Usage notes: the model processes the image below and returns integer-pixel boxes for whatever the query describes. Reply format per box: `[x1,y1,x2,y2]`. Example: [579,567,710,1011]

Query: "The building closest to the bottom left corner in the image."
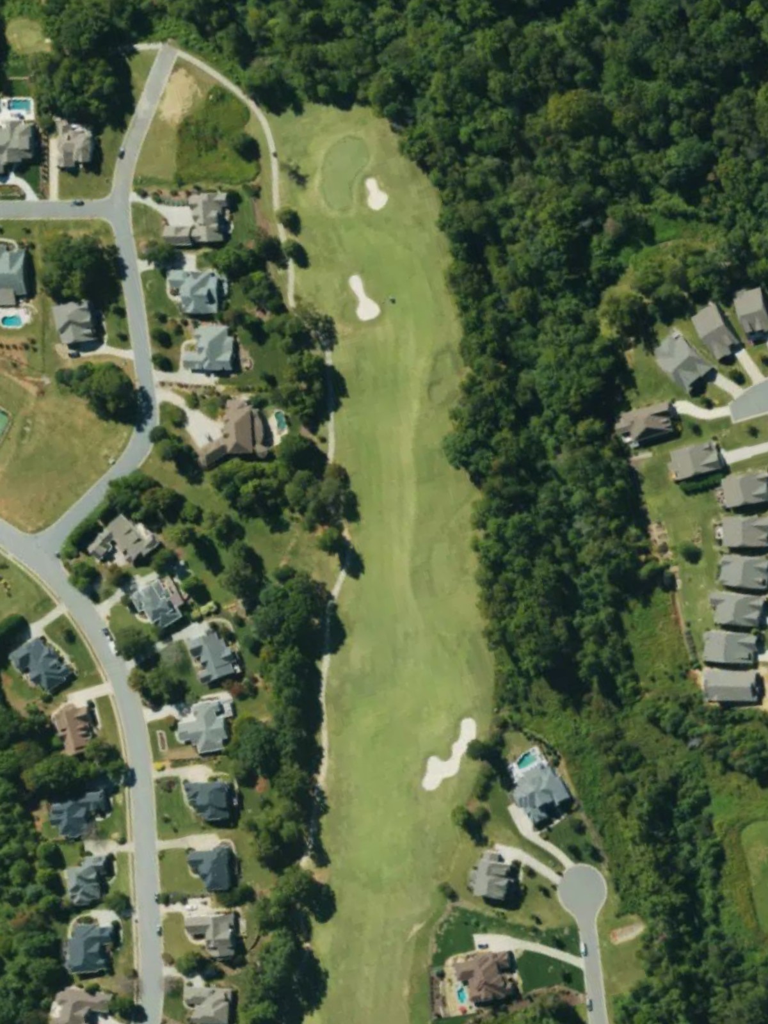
[53,983,114,1024]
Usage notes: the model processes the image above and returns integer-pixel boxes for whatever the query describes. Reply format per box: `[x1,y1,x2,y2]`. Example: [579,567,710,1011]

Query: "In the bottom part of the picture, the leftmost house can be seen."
[9,636,71,694]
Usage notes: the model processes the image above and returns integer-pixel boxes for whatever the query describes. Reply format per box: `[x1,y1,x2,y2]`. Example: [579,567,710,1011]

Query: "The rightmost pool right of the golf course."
[517,750,536,769]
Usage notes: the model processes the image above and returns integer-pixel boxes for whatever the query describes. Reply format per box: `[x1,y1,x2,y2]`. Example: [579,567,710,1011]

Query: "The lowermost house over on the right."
[454,947,517,1002]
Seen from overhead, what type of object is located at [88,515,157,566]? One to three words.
house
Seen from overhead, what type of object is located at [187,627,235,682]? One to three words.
house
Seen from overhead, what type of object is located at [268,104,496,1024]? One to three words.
golf course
